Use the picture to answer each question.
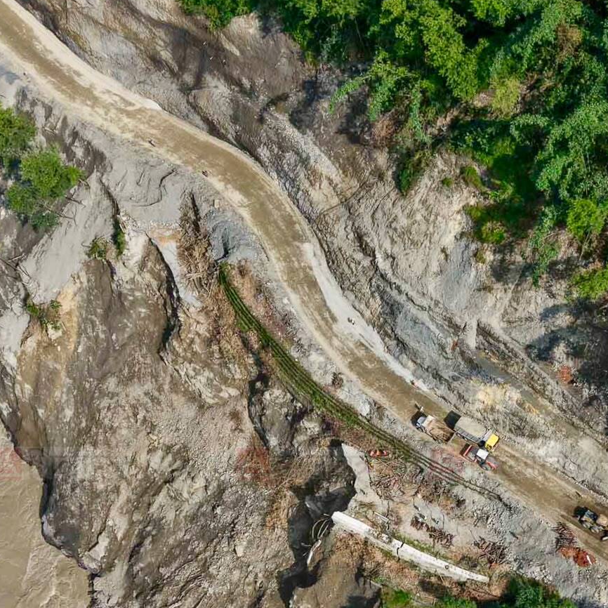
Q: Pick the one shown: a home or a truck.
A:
truck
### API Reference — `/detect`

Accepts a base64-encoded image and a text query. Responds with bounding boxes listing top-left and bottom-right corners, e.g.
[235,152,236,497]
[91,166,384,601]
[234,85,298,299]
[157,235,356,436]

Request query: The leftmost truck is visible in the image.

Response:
[415,415,459,447]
